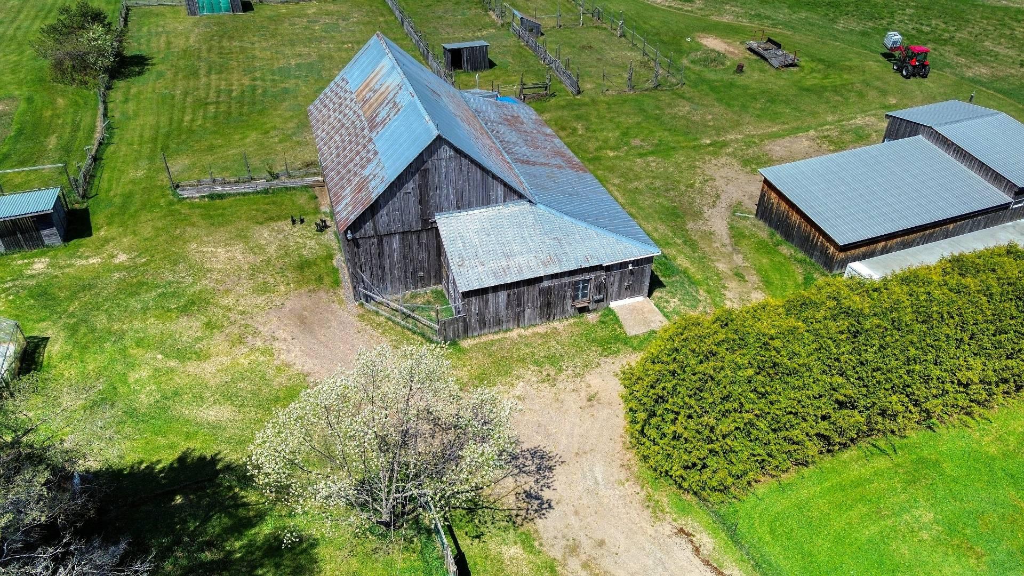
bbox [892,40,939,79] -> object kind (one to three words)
work vehicle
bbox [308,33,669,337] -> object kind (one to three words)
barn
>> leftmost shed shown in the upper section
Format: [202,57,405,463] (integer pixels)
[0,177,73,254]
